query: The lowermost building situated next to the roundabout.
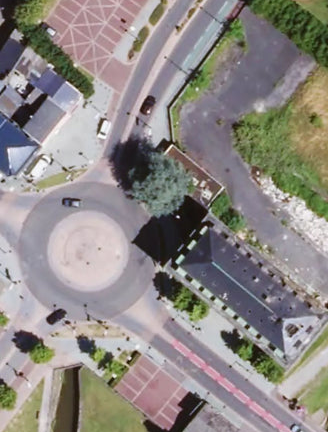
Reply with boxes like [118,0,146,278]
[166,210,328,372]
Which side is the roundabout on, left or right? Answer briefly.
left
